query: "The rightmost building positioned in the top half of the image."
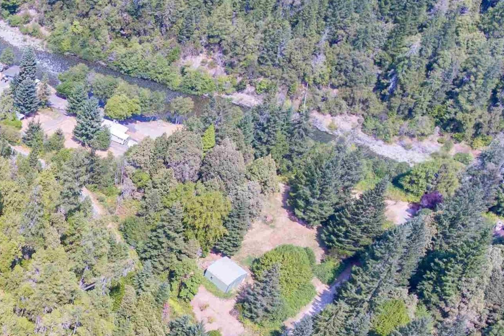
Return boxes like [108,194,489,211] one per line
[96,118,130,144]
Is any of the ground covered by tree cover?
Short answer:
Yes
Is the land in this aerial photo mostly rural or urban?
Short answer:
rural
